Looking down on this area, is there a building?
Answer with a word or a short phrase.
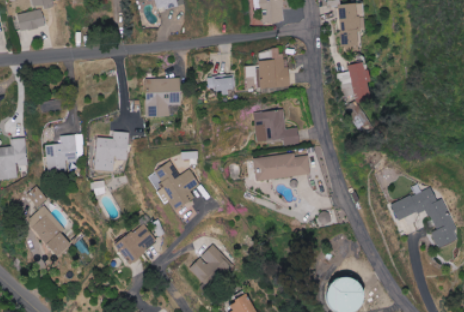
Yes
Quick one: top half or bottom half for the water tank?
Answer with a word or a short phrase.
bottom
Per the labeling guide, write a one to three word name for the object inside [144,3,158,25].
swimming pool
